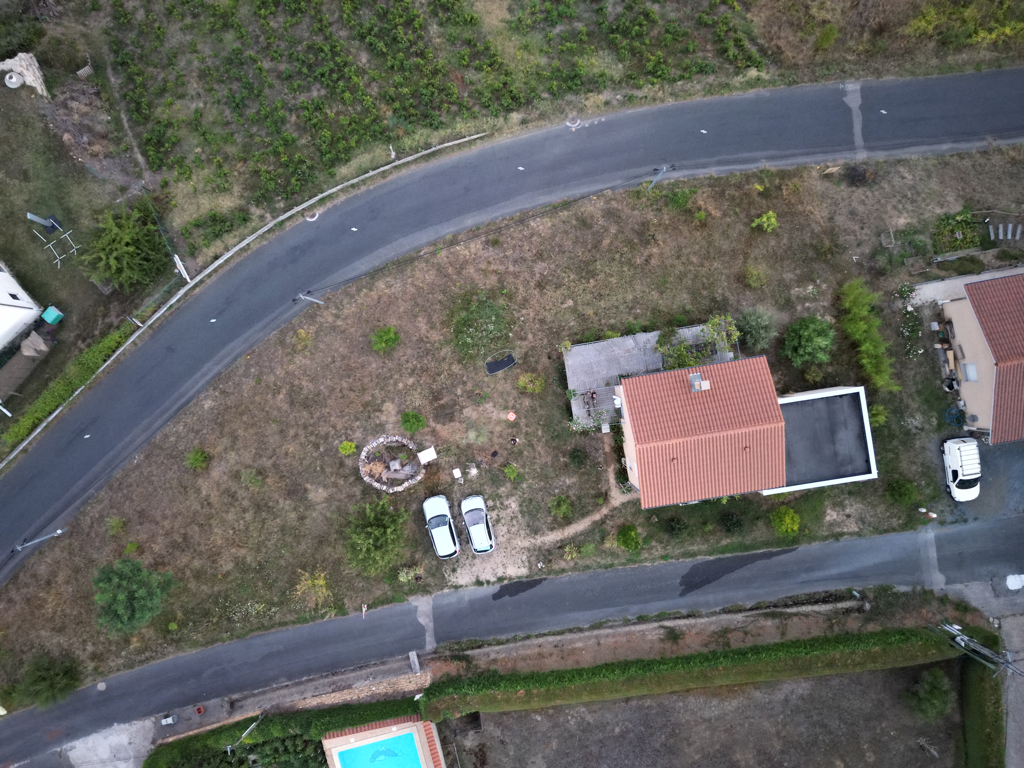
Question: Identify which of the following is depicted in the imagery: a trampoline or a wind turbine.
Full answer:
I can see a trampoline in this picture.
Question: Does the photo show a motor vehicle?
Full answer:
Yes, the image includes a motor vehicle.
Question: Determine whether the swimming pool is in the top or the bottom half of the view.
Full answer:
The swimming pool sits in the bottom half of the picture.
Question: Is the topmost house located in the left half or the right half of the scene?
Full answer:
The topmost house sits on the left side.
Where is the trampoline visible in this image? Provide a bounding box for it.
[484,350,517,375]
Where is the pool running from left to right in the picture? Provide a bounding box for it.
[322,721,433,768]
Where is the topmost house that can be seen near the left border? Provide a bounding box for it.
[0,264,44,349]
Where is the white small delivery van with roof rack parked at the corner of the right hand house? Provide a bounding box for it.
[940,438,985,503]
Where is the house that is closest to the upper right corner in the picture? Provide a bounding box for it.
[942,272,1024,446]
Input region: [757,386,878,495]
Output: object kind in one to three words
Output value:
building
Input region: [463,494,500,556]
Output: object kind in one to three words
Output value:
car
